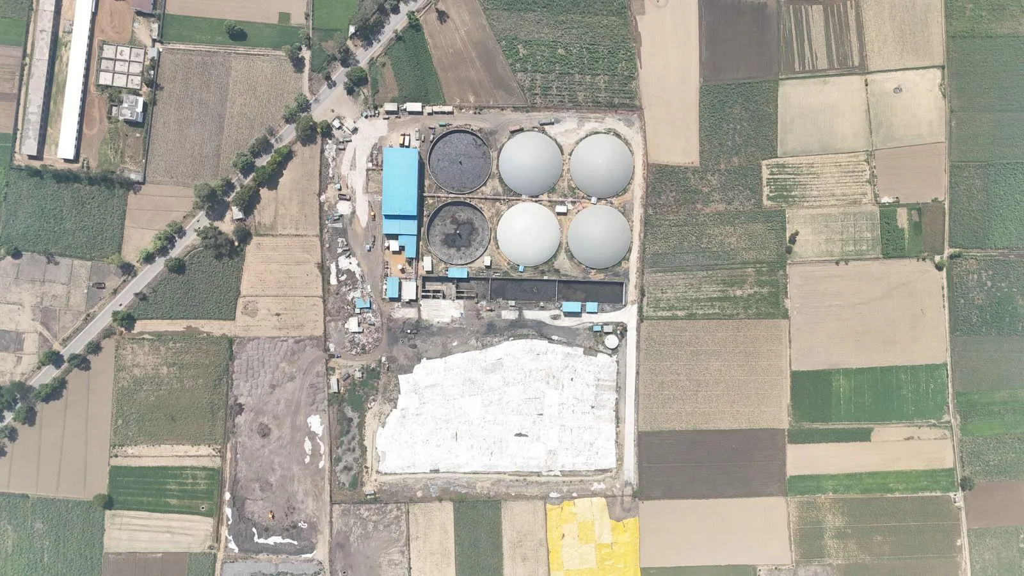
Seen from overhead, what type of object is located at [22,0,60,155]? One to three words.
shed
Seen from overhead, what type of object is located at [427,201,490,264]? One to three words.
storage tank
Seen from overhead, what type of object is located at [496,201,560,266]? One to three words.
storage tank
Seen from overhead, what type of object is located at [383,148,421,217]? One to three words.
building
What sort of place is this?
industrial area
